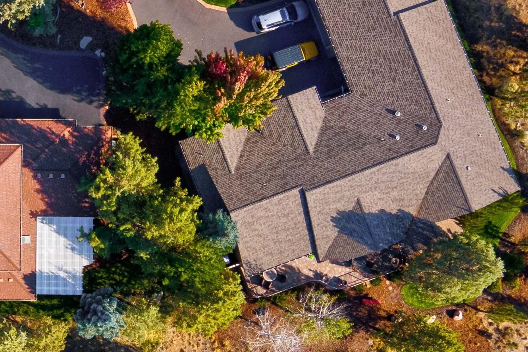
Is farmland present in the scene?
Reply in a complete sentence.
No, farmland can't be seen anywhere here.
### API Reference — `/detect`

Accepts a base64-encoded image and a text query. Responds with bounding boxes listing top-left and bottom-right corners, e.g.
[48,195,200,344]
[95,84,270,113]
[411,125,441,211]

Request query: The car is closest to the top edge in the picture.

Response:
[247,1,307,35]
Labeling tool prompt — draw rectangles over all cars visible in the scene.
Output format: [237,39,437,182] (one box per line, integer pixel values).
[265,41,317,73]
[247,1,307,35]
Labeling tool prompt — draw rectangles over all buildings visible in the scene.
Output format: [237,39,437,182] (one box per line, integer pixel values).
[178,0,521,279]
[0,118,114,301]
